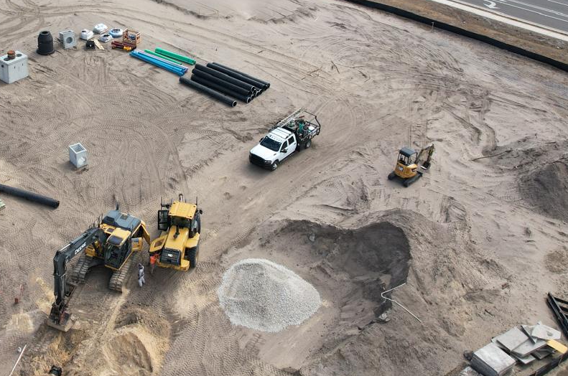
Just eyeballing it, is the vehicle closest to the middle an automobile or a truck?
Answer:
truck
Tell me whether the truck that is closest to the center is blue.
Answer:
No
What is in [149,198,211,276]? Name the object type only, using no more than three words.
work vehicle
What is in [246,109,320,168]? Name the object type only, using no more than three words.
truck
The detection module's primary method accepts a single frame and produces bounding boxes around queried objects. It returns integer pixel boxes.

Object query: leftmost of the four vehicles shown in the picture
[45,211,150,319]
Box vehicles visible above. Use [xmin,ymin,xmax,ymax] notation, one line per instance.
[149,198,211,276]
[387,140,429,185]
[45,211,150,319]
[246,109,320,168]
